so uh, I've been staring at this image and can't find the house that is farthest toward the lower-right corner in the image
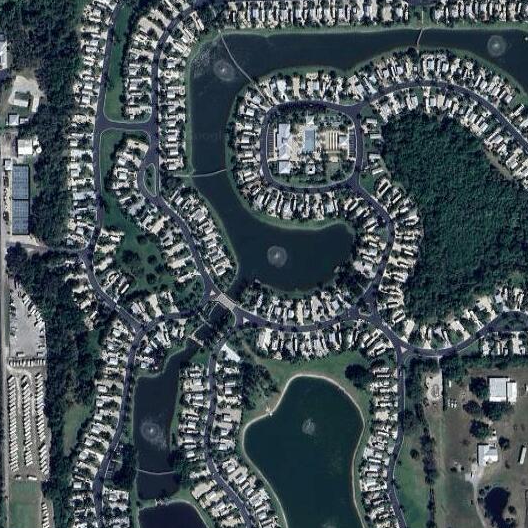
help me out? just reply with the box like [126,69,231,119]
[478,443,498,465]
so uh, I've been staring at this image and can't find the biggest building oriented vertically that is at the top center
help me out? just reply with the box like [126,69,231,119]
[276,123,292,158]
